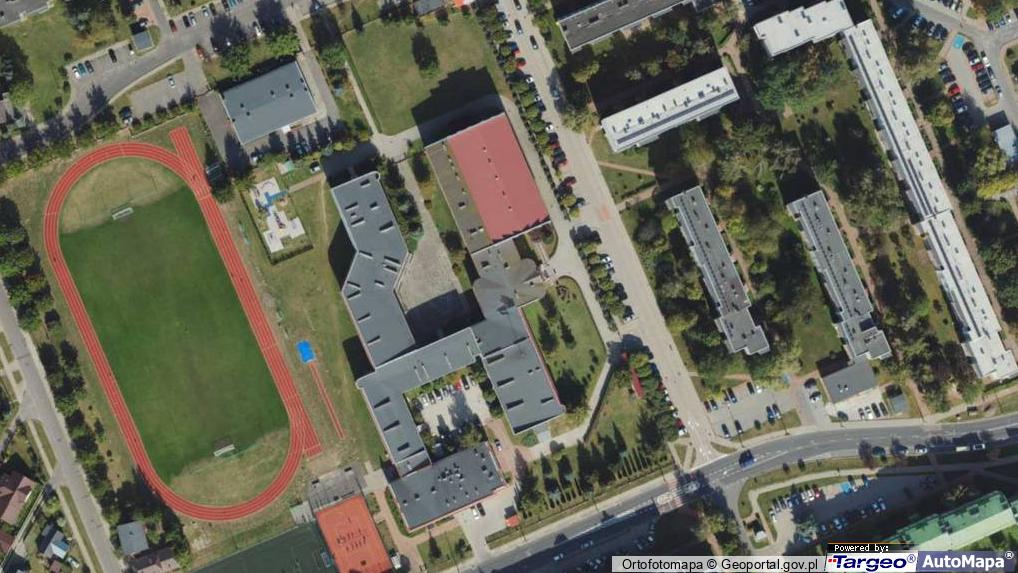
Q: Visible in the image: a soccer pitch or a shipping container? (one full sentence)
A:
Of the two, only a soccer pitch appears.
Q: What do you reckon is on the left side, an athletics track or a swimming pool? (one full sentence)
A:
What appears on the left side is an athletics track.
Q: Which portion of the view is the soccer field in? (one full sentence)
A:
The soccer field is in the left part of the image.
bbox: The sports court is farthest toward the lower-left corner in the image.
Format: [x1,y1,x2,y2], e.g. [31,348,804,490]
[188,516,338,573]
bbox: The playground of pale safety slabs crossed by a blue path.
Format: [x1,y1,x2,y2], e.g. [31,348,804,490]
[252,178,304,253]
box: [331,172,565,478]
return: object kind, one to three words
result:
building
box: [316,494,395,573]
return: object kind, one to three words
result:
sports court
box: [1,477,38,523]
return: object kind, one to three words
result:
house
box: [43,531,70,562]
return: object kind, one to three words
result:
house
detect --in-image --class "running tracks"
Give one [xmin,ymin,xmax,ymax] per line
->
[42,126,323,522]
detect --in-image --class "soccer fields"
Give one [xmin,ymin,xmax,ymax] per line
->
[59,157,289,505]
